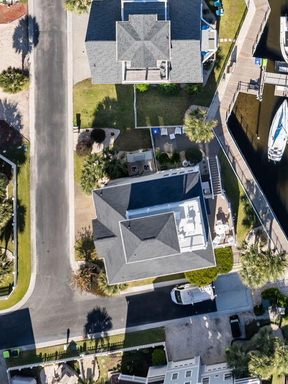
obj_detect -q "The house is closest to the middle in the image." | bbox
[91,157,237,286]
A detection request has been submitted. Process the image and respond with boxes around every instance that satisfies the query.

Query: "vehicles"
[229,313,242,340]
[170,285,216,310]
